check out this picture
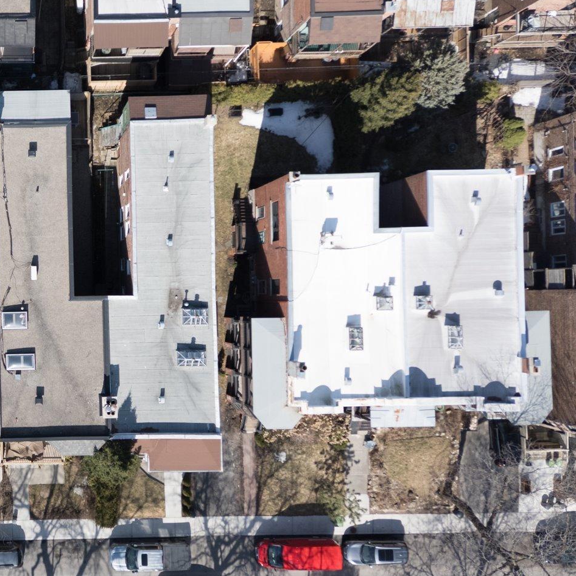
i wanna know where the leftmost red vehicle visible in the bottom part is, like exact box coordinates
[254,535,346,571]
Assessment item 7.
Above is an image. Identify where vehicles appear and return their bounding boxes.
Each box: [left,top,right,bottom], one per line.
[109,538,188,573]
[0,541,23,568]
[486,417,520,478]
[254,535,346,571]
[341,536,406,568]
